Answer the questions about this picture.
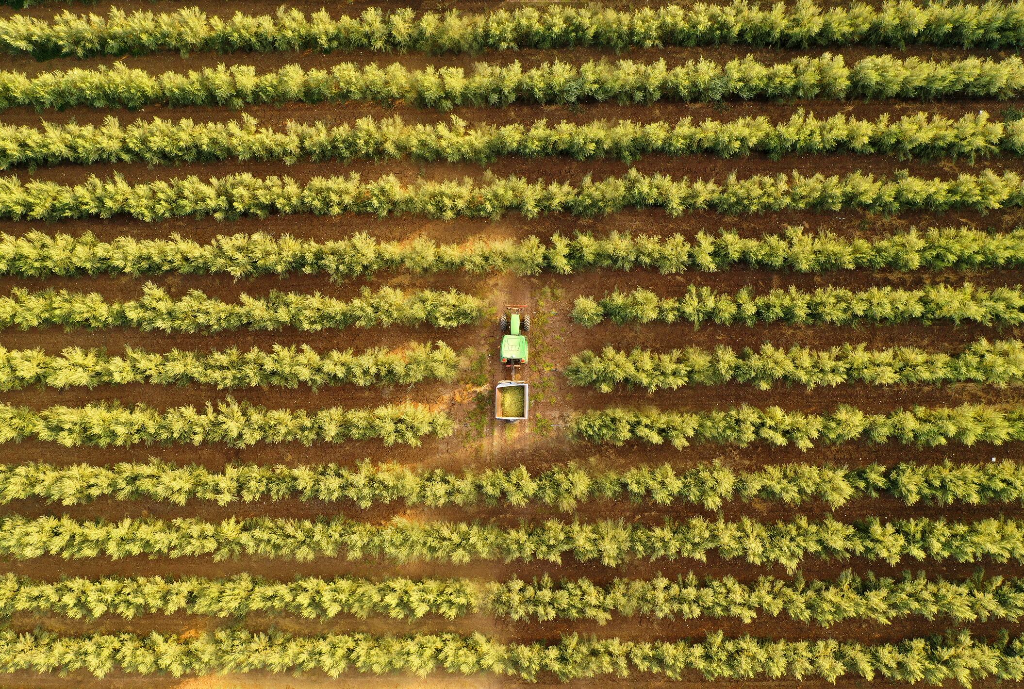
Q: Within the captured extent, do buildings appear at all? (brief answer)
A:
No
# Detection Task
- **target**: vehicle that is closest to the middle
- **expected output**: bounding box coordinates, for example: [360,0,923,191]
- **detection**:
[500,305,530,372]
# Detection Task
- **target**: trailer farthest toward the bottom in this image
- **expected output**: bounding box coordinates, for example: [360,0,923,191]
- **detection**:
[496,365,528,421]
